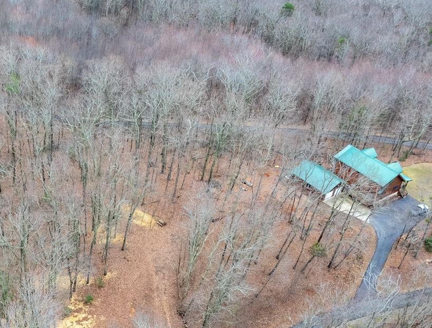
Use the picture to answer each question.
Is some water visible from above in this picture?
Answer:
No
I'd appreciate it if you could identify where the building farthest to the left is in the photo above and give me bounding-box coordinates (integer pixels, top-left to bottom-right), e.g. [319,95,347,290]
[292,159,347,201]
